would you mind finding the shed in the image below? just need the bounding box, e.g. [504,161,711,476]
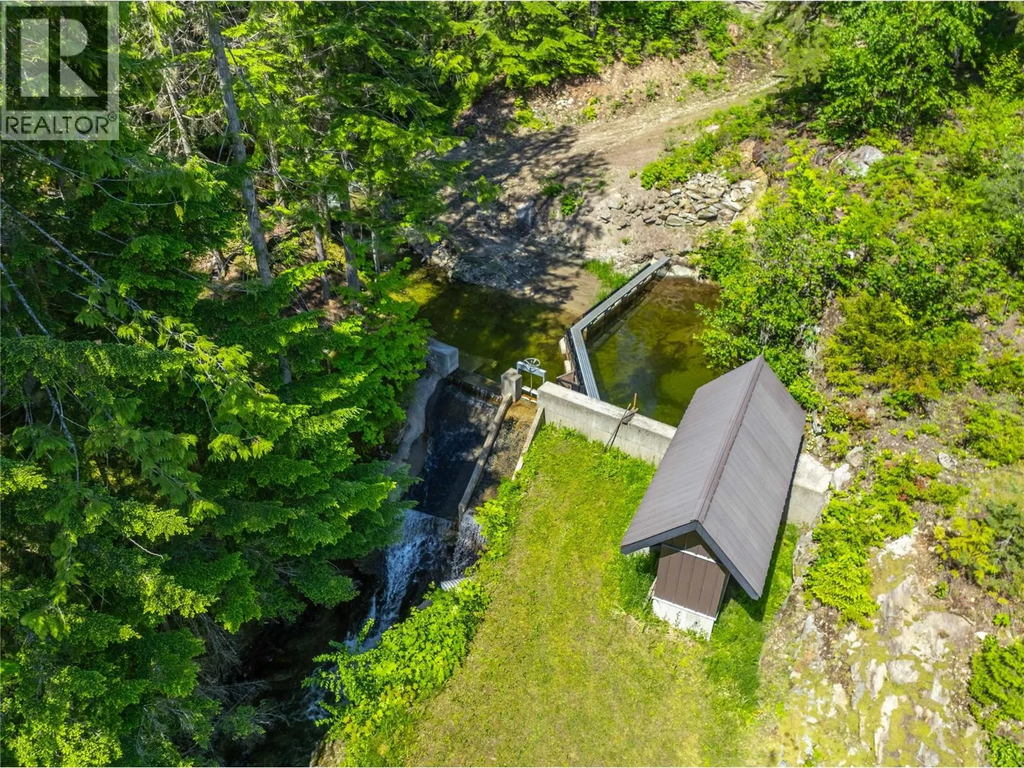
[619,352,807,638]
